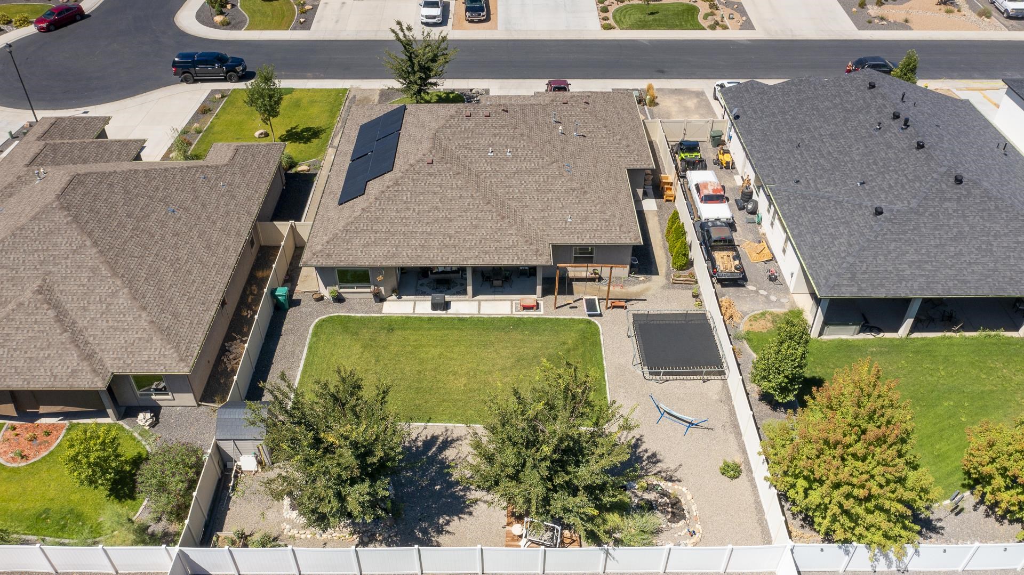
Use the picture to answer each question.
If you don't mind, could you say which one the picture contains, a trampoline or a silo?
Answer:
trampoline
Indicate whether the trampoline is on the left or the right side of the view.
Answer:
right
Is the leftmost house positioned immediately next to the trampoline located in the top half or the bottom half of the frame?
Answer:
top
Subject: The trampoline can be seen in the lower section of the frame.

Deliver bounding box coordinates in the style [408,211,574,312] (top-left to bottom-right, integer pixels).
[627,310,724,385]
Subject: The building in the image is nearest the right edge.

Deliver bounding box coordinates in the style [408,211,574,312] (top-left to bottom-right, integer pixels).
[994,70,1024,145]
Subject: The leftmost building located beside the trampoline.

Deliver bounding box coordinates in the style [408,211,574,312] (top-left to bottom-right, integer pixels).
[298,88,657,299]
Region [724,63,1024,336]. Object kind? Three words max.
house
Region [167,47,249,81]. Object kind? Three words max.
truck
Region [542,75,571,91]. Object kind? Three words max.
vehicle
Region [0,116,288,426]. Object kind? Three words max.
house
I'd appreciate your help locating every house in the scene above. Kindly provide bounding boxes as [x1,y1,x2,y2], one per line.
[724,63,1024,336]
[298,88,657,299]
[994,70,1024,145]
[0,116,288,426]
